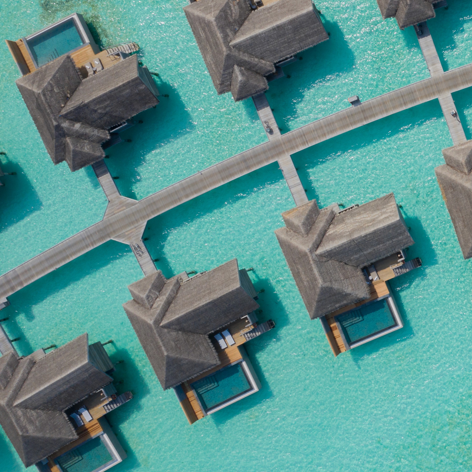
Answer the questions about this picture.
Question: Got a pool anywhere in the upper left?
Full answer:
Yes, you'll find a pool in the upper left.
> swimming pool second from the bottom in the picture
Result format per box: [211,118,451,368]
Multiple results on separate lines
[190,344,262,417]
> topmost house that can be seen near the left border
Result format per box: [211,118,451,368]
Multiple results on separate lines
[4,39,167,175]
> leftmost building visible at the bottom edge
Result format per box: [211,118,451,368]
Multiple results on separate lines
[0,329,137,472]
